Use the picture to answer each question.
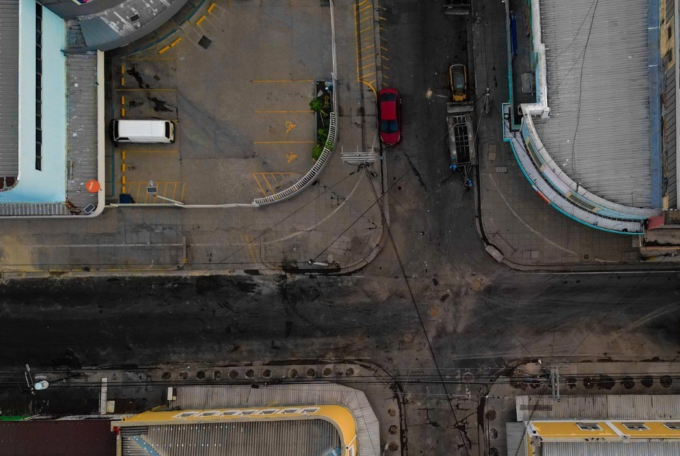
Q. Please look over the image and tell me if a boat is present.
No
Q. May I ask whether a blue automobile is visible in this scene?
No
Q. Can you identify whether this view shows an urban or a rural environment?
urban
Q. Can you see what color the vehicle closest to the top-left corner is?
white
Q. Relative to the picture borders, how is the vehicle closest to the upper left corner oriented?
from side to side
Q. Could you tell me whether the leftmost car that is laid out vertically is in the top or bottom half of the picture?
top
